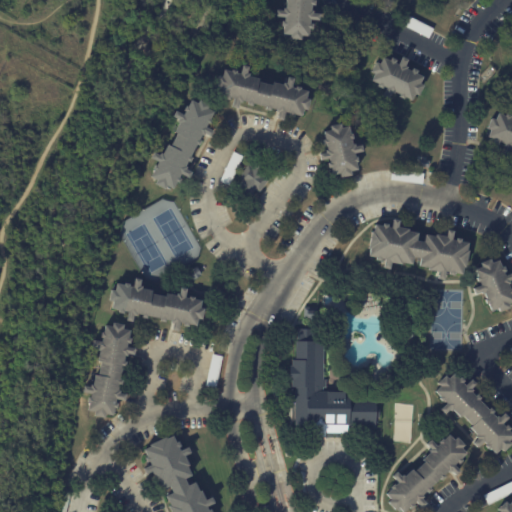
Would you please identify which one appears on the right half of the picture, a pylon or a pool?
pool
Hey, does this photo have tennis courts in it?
Yes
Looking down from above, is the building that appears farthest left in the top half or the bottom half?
bottom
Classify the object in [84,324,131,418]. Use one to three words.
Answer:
building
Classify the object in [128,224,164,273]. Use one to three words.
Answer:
tennis court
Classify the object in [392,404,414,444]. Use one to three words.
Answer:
sports court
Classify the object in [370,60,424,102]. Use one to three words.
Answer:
building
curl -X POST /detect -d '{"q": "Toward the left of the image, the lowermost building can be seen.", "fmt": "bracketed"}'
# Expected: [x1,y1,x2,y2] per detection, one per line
[145,436,210,512]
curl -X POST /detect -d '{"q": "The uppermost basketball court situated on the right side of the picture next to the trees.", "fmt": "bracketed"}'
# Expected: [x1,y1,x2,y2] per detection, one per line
[432,290,462,320]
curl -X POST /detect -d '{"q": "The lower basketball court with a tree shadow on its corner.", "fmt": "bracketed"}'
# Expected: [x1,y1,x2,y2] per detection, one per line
[432,320,462,350]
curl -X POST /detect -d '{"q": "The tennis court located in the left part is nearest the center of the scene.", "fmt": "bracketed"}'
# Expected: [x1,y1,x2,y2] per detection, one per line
[154,210,192,257]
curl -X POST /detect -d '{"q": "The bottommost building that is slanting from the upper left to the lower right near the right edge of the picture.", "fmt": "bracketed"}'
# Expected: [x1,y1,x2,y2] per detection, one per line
[438,374,512,456]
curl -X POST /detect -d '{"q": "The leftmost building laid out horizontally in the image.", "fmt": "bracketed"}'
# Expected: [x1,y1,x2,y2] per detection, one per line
[108,282,204,329]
